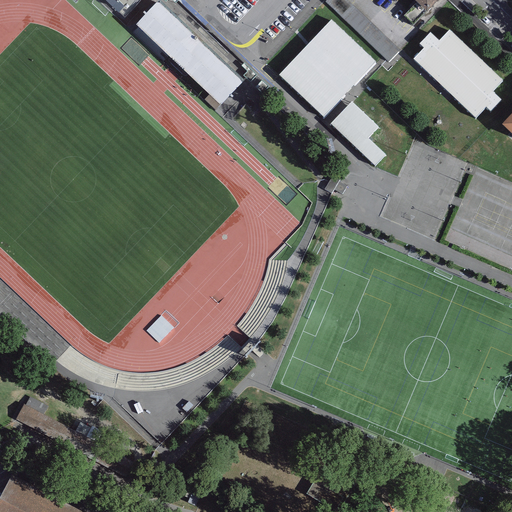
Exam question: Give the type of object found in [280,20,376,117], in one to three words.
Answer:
building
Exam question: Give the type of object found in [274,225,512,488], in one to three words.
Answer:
soccer field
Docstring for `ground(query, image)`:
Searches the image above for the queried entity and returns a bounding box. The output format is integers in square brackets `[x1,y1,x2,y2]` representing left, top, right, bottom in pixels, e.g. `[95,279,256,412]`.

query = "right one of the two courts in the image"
[446,164,512,270]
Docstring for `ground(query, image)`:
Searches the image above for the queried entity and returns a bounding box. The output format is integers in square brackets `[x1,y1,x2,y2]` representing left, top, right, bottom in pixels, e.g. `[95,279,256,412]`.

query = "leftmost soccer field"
[0,22,238,342]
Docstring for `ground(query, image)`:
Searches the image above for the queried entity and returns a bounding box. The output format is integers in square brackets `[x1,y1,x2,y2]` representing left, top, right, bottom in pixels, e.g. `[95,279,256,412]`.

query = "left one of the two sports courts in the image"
[384,141,466,240]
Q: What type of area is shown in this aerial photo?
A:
sports ground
